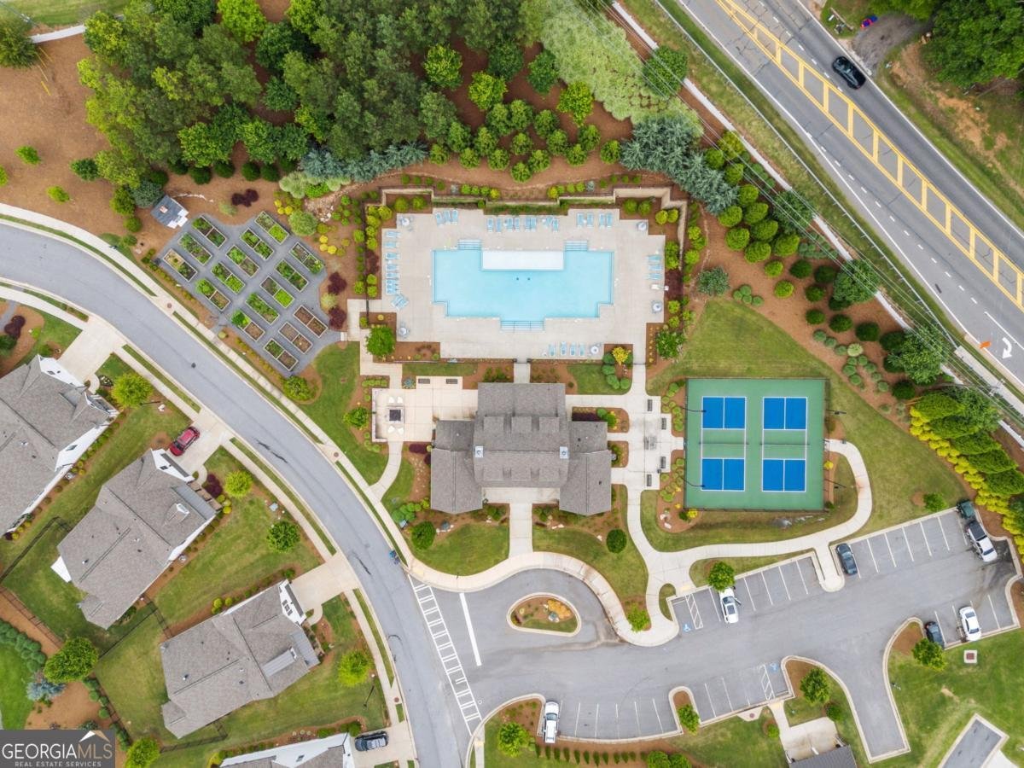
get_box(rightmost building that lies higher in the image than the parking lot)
[431,384,611,513]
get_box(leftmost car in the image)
[168,425,197,458]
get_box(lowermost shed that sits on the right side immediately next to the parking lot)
[790,736,862,768]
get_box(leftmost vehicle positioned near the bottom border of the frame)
[354,732,390,754]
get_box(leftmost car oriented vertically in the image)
[542,705,560,744]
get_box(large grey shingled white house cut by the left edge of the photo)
[0,355,125,544]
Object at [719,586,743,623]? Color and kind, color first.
white car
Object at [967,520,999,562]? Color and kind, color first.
white truck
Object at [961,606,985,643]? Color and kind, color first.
white car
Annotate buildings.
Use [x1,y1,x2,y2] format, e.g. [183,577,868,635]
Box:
[0,355,125,544]
[431,384,611,513]
[49,447,229,630]
[144,190,187,235]
[790,736,862,768]
[217,732,371,768]
[149,581,330,739]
